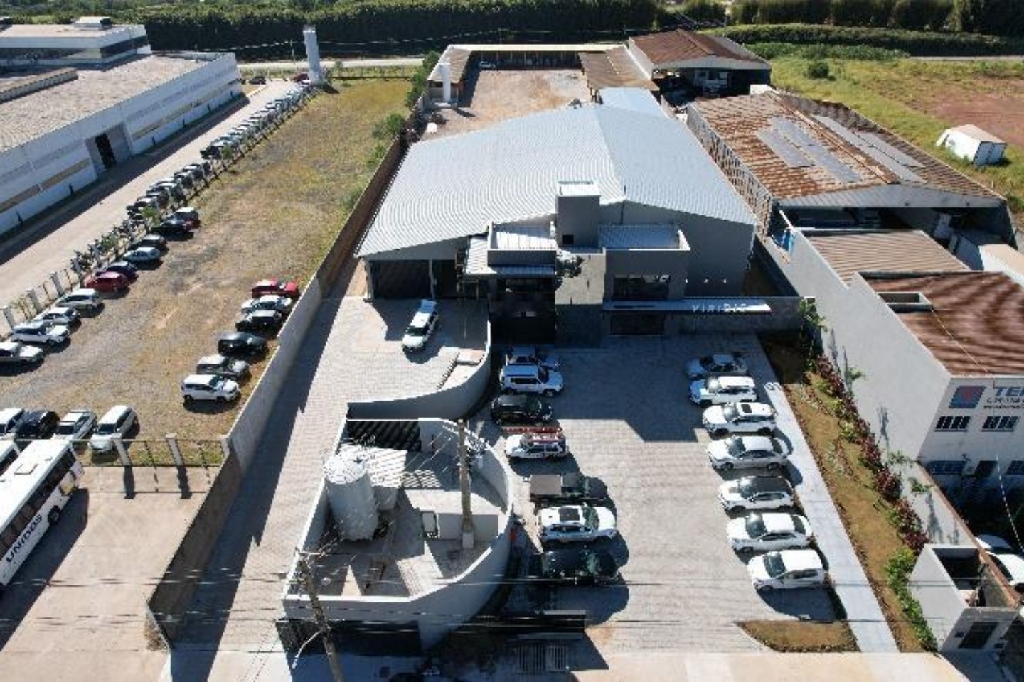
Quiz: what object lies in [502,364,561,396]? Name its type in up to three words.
car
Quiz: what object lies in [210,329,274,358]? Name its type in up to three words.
car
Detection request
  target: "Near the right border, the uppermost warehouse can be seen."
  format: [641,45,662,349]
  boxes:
[686,81,1007,246]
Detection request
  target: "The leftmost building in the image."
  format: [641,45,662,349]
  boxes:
[0,14,241,237]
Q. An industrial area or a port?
industrial area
